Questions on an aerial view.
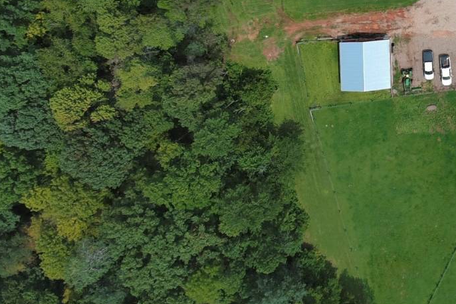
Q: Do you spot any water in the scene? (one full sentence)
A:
No, the picture contains no water.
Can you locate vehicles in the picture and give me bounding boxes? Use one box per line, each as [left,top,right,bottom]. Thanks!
[422,48,435,81]
[439,53,453,86]
[401,67,412,90]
